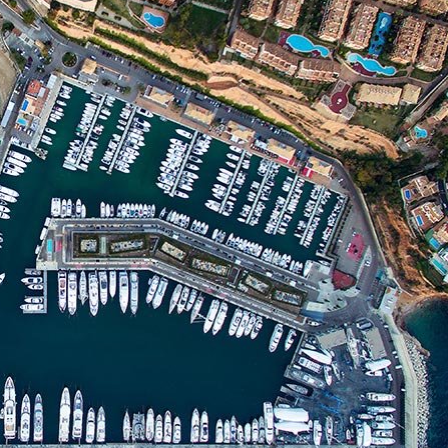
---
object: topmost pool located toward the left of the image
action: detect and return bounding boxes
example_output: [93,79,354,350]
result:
[141,5,170,33]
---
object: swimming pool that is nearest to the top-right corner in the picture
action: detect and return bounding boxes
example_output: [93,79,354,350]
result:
[368,12,392,55]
